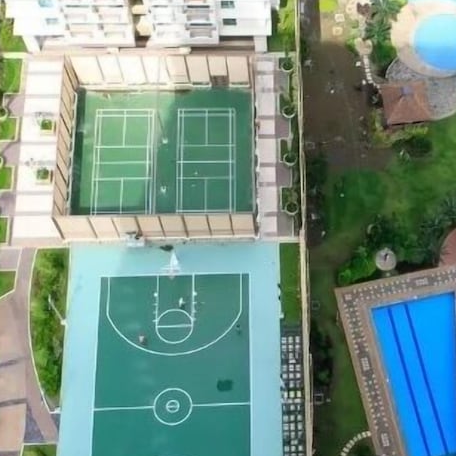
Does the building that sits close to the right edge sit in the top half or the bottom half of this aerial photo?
top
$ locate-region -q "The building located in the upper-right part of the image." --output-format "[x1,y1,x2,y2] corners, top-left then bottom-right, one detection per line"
[381,78,435,132]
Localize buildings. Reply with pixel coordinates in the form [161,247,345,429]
[381,78,435,132]
[0,0,274,51]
